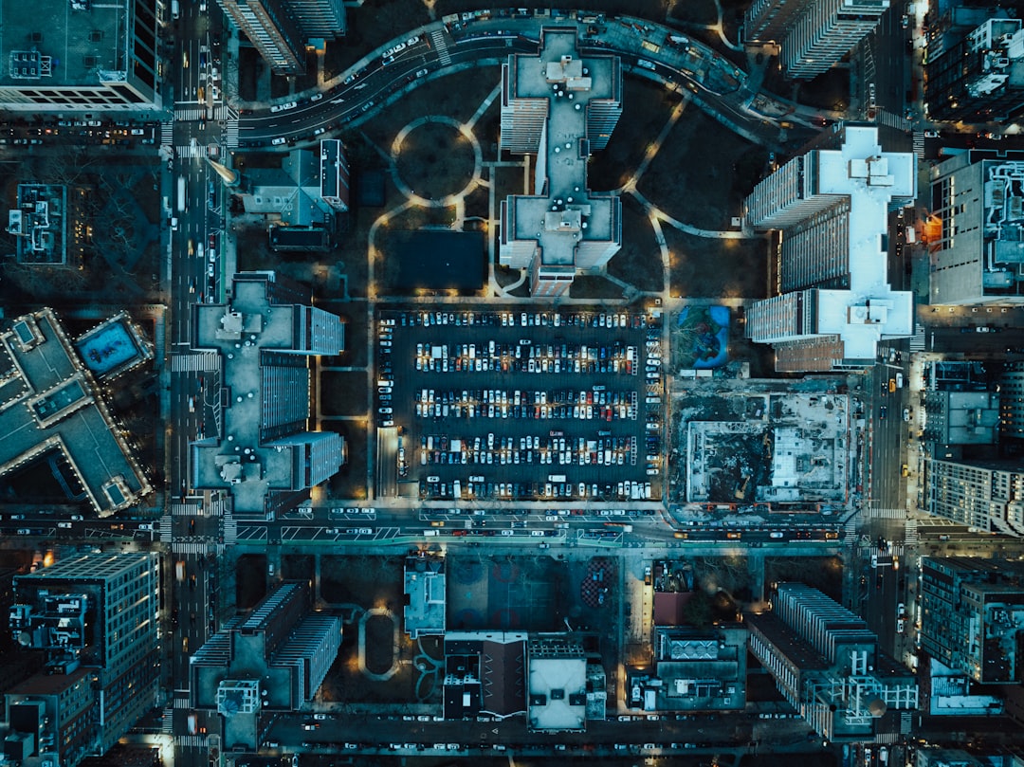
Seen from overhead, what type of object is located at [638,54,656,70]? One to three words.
vehicle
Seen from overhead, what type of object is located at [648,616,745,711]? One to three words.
building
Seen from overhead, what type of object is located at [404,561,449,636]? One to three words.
building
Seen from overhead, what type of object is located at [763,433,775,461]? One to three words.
vehicle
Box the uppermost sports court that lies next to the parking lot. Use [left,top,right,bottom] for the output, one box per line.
[388,231,484,289]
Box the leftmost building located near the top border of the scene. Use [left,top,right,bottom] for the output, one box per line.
[0,0,161,109]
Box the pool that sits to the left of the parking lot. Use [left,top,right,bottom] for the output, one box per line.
[81,322,137,375]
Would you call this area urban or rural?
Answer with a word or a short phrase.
urban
